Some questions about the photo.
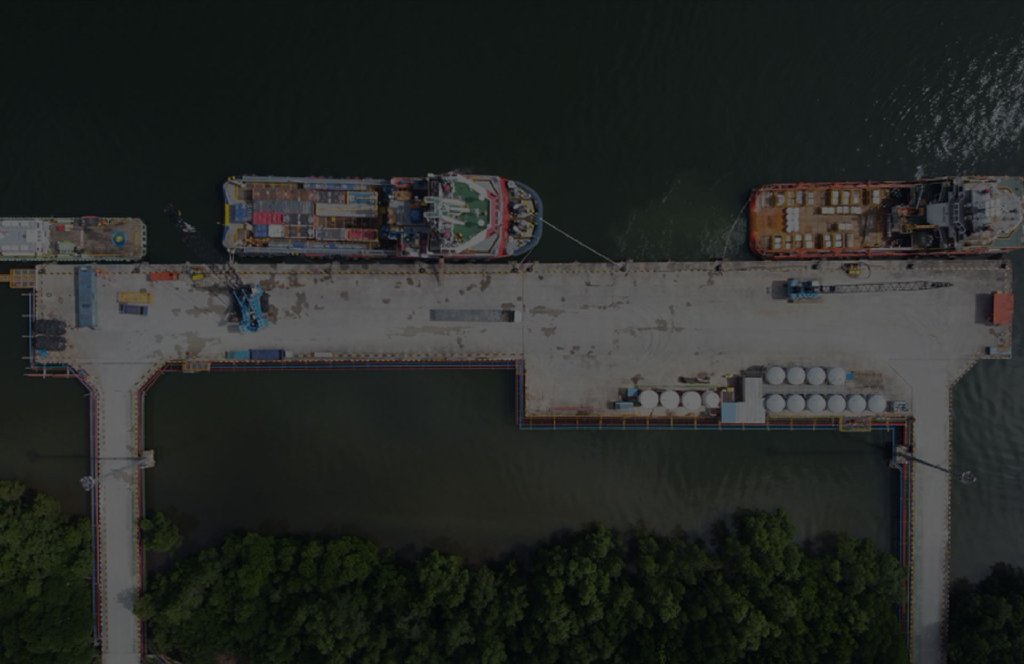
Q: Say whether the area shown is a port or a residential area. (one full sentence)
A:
What you see here is a port.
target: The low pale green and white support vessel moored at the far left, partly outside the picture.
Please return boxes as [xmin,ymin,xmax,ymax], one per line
[0,216,151,263]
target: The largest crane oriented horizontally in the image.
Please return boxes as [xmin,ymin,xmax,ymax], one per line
[785,279,957,301]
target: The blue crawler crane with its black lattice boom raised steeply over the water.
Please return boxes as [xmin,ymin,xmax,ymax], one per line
[164,207,270,339]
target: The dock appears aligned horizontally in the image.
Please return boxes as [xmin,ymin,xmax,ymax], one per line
[35,254,1011,664]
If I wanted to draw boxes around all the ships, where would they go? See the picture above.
[745,175,1024,259]
[0,216,151,263]
[222,171,544,258]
